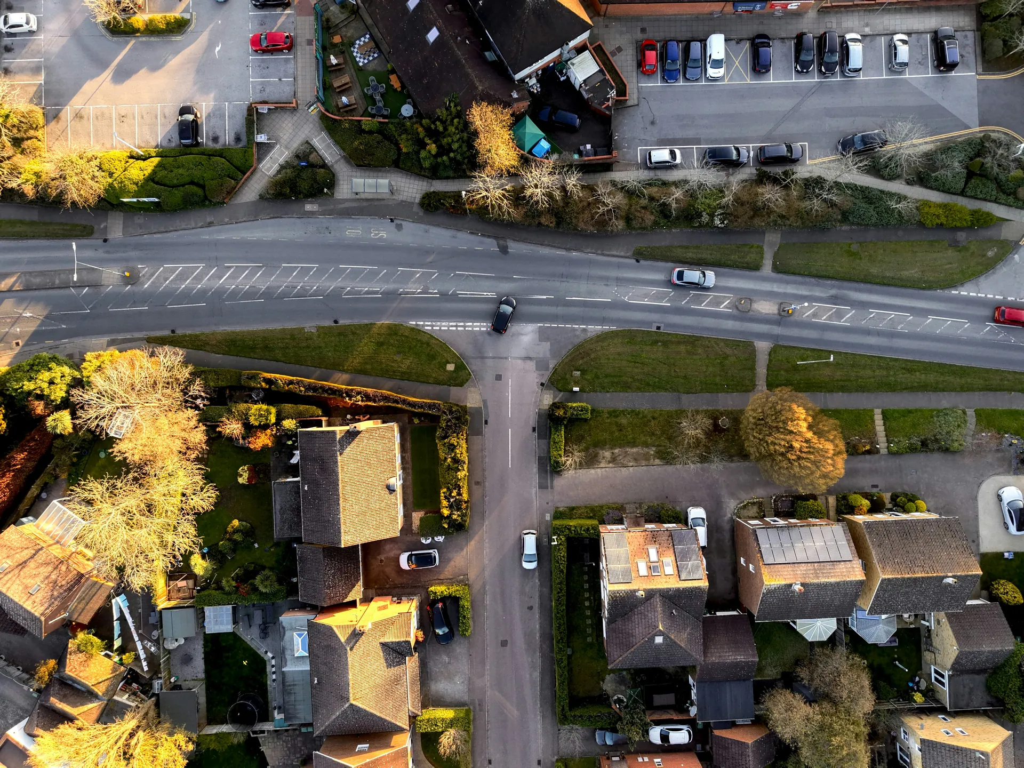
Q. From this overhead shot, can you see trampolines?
Yes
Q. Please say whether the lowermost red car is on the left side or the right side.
right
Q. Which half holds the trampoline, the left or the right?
left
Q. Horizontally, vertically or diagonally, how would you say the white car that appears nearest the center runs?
vertically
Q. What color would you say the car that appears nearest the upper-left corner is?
white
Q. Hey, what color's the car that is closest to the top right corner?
black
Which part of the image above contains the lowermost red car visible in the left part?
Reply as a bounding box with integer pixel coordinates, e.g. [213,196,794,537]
[252,31,294,54]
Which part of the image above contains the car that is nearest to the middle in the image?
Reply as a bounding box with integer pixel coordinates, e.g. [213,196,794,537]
[490,295,517,337]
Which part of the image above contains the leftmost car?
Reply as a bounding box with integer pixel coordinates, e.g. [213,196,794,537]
[0,11,39,34]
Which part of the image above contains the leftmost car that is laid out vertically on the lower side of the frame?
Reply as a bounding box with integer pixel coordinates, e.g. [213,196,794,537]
[429,598,455,644]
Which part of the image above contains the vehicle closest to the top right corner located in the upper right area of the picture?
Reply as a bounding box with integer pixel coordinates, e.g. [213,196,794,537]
[932,27,959,73]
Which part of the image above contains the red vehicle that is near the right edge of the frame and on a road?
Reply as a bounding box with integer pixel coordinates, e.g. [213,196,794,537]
[990,306,1024,327]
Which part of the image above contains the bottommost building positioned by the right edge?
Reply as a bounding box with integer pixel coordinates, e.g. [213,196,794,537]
[895,711,1015,768]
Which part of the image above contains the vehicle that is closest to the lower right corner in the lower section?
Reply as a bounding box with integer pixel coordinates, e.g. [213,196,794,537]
[995,488,1024,535]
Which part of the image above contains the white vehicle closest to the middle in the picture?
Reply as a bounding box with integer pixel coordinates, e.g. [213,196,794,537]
[519,529,539,570]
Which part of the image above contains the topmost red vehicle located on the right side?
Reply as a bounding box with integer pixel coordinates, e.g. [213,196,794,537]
[639,40,659,77]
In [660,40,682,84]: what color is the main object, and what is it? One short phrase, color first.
blue car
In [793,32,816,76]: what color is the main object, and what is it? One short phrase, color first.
black car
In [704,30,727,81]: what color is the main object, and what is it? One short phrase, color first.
white vehicle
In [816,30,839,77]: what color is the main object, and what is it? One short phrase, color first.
black car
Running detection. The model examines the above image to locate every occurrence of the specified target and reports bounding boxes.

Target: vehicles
[648,723,693,748]
[750,35,773,76]
[816,30,839,77]
[176,105,200,148]
[836,128,887,157]
[251,0,292,13]
[592,726,630,750]
[490,295,517,337]
[886,33,910,73]
[669,267,714,289]
[687,506,710,550]
[0,11,39,34]
[536,104,582,134]
[840,34,864,78]
[429,598,455,644]
[660,40,682,84]
[645,147,681,168]
[400,549,439,571]
[682,41,704,82]
[704,30,727,81]
[932,27,959,73]
[995,488,1024,535]
[757,142,801,164]
[703,144,748,167]
[639,40,659,77]
[793,32,816,76]
[252,31,294,54]
[519,529,539,570]
[990,306,1024,327]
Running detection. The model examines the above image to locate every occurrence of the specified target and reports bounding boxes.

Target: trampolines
[227,694,263,730]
